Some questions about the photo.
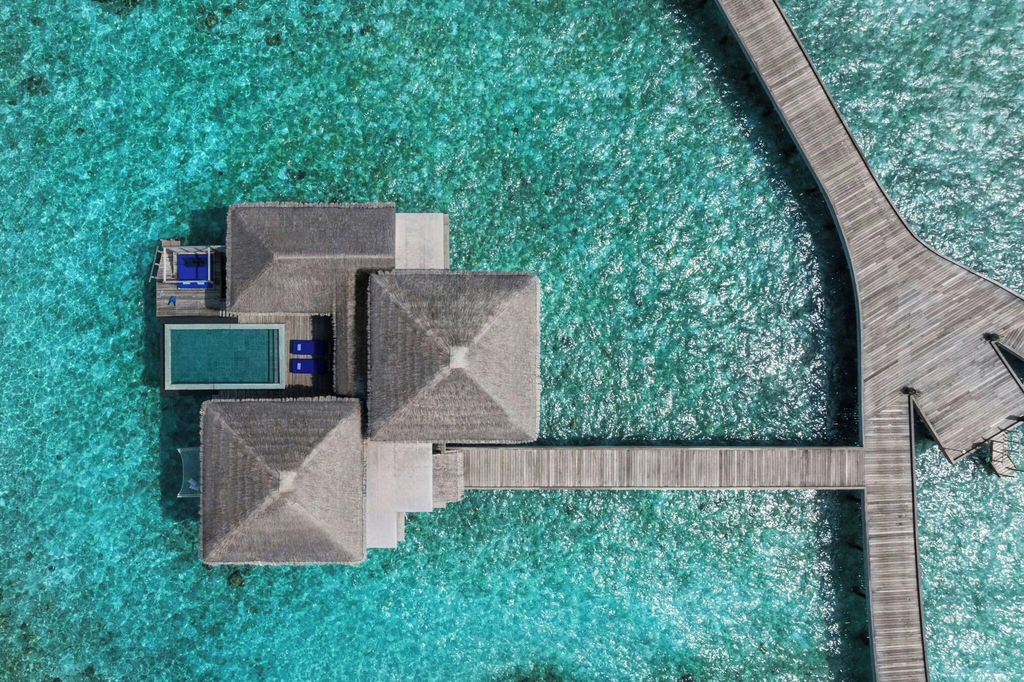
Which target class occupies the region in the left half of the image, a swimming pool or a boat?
swimming pool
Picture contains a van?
No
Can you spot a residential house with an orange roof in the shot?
No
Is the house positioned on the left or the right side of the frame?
left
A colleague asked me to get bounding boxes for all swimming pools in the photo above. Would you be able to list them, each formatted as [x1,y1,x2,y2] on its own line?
[160,317,286,396]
